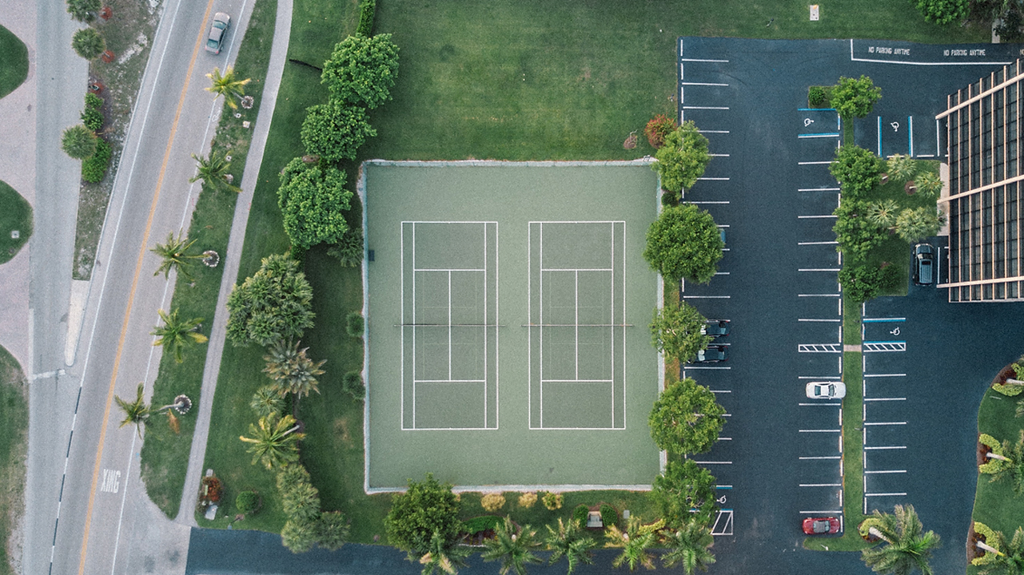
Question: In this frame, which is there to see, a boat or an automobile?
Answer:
automobile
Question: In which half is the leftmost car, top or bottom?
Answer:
top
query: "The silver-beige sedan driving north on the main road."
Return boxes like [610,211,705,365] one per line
[201,10,229,53]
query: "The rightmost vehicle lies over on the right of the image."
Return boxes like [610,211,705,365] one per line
[914,243,937,285]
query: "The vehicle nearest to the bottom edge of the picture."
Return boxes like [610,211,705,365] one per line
[803,519,840,537]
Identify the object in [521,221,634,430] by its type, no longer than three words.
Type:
tennis court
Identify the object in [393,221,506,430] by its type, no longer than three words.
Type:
tennis court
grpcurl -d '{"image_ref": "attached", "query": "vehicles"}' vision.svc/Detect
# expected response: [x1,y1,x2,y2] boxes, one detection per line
[686,345,729,364]
[803,519,840,537]
[807,381,847,401]
[914,243,937,285]
[201,10,229,53]
[688,319,730,338]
